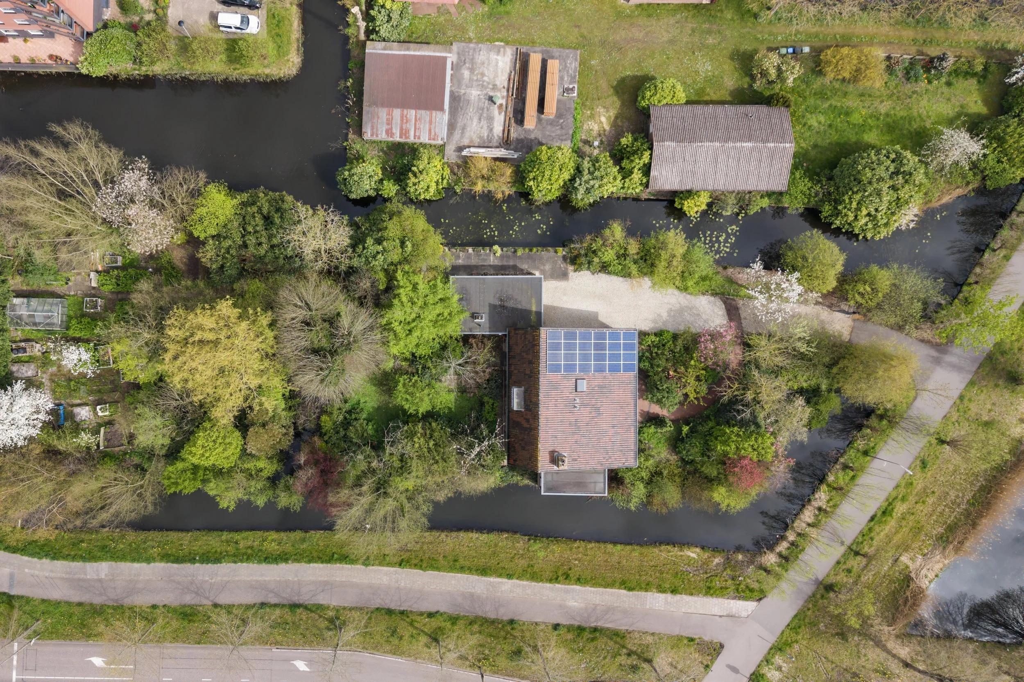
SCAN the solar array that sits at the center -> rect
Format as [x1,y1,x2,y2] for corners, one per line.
[548,330,637,373]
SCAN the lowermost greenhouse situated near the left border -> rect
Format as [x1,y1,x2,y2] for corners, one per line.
[0,298,66,329]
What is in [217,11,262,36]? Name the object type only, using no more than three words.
car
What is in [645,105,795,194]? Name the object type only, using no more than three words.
shed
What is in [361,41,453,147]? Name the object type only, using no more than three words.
barn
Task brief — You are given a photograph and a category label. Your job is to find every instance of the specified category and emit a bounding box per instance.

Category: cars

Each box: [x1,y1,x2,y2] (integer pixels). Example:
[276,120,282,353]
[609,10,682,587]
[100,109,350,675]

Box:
[217,11,262,36]
[219,0,263,15]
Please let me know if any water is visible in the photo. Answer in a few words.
Yes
